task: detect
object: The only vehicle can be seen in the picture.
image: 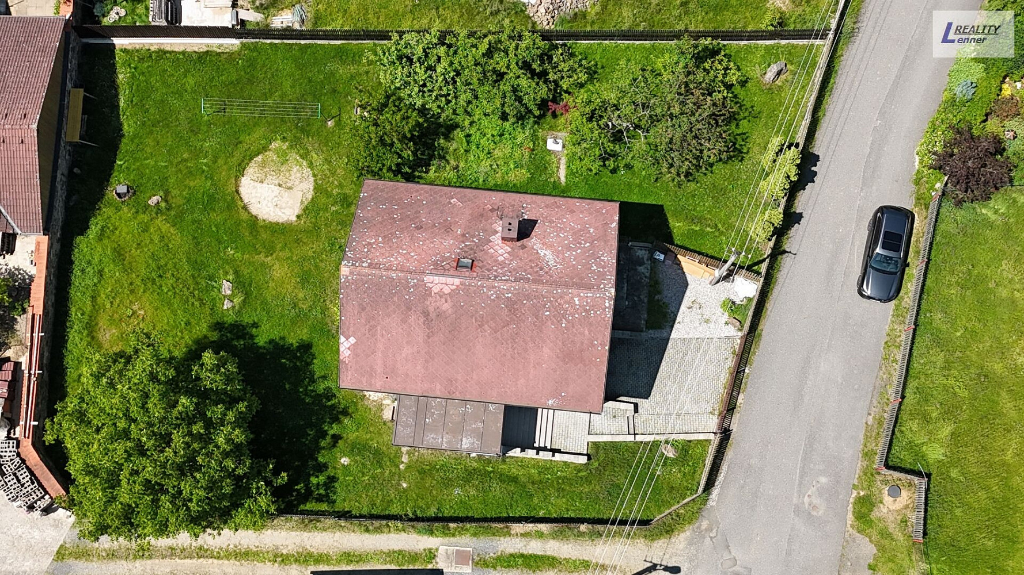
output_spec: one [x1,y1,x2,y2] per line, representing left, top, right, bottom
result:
[854,203,909,305]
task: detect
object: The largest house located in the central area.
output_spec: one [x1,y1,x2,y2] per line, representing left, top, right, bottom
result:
[337,176,620,417]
